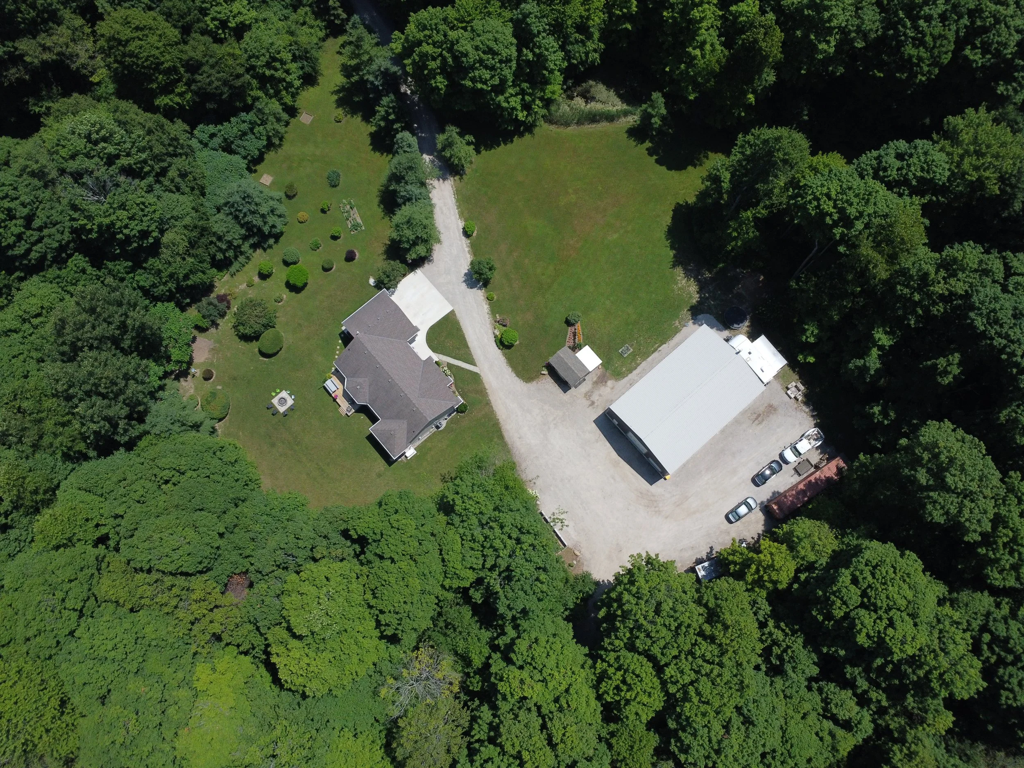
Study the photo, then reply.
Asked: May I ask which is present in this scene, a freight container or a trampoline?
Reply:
freight container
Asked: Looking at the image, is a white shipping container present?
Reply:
No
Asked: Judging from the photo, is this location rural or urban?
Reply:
rural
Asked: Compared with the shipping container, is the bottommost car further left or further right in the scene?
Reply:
on its left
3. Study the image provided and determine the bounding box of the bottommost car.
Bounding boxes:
[723,496,757,526]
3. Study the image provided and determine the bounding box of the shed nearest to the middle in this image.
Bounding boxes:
[549,345,602,391]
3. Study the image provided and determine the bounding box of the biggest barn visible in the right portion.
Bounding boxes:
[605,323,767,478]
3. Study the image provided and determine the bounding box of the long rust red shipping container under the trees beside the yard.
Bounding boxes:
[766,457,850,520]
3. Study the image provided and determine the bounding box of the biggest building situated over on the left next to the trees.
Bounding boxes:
[334,288,463,460]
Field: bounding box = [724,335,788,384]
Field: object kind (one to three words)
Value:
trailer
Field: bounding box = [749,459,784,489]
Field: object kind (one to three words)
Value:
car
